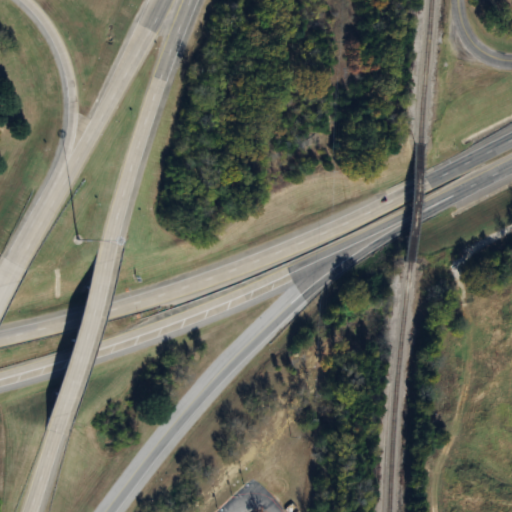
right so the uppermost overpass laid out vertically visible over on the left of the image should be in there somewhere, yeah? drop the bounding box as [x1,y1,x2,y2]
[0,258,26,324]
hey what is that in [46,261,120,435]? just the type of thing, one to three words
overpass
